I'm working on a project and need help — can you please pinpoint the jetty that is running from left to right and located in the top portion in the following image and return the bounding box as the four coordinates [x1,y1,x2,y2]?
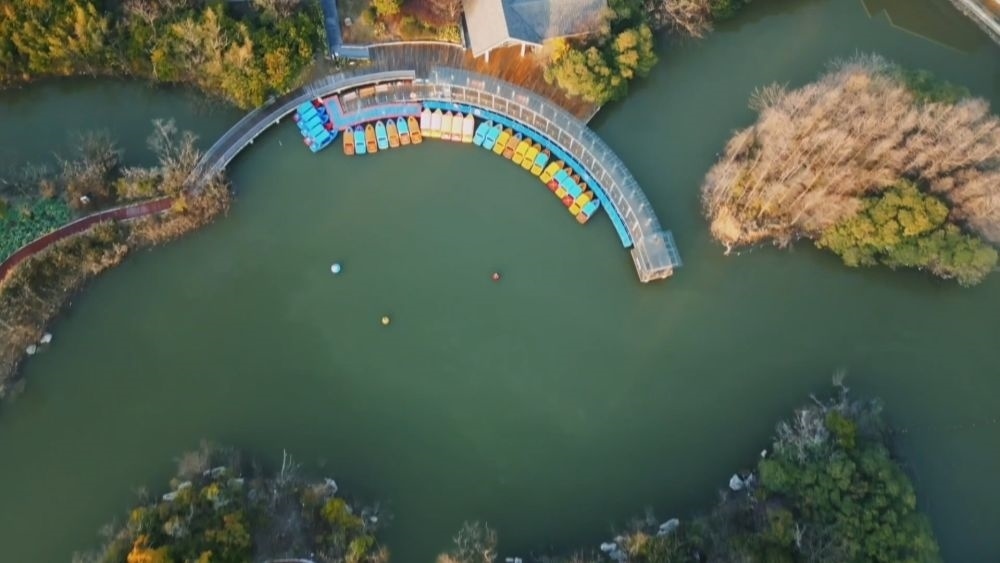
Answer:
[323,96,419,133]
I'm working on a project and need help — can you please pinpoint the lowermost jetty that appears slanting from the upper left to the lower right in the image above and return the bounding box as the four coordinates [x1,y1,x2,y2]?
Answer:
[346,63,690,282]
